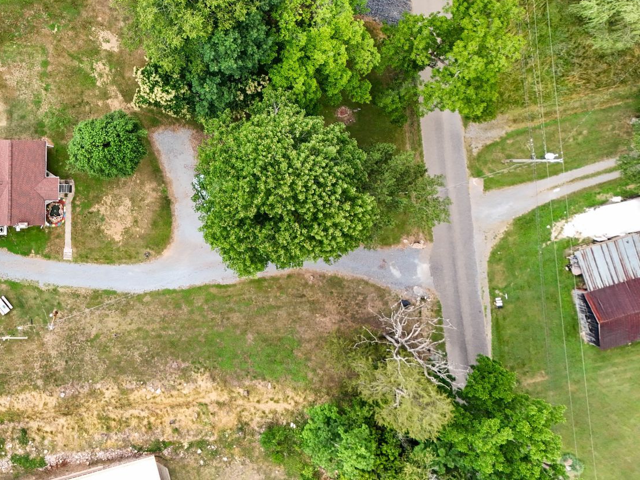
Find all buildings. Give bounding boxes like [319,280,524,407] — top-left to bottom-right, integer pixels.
[52,449,170,480]
[560,231,640,350]
[0,140,60,230]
